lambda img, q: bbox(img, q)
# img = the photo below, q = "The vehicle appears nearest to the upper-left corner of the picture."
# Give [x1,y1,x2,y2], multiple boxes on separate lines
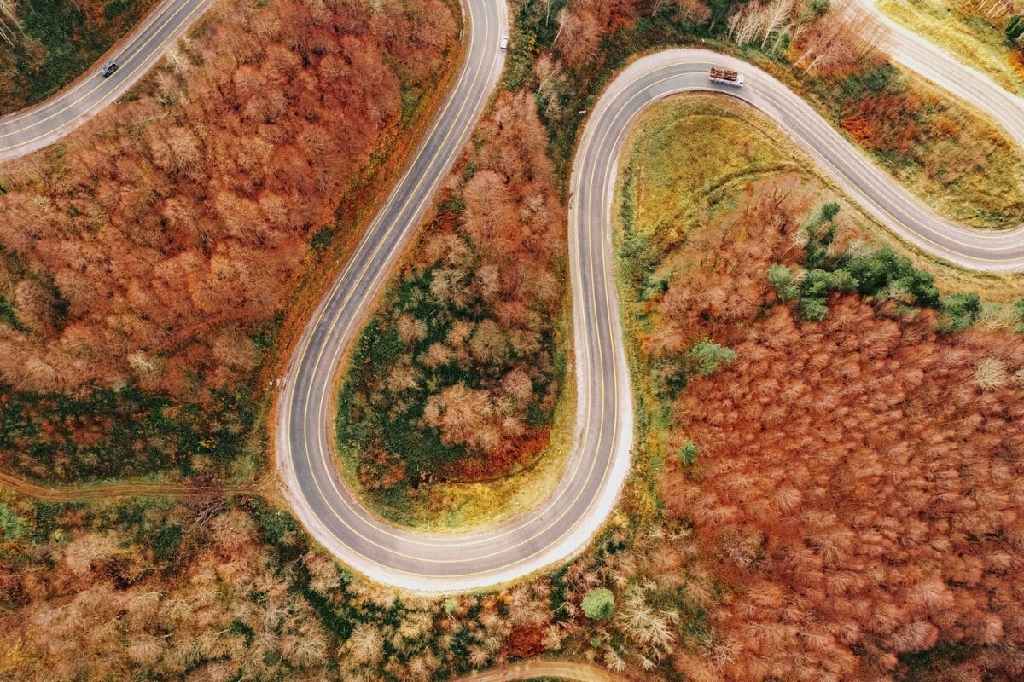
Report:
[101,60,118,76]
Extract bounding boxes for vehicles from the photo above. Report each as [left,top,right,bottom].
[101,60,118,76]
[709,69,744,87]
[500,36,508,50]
